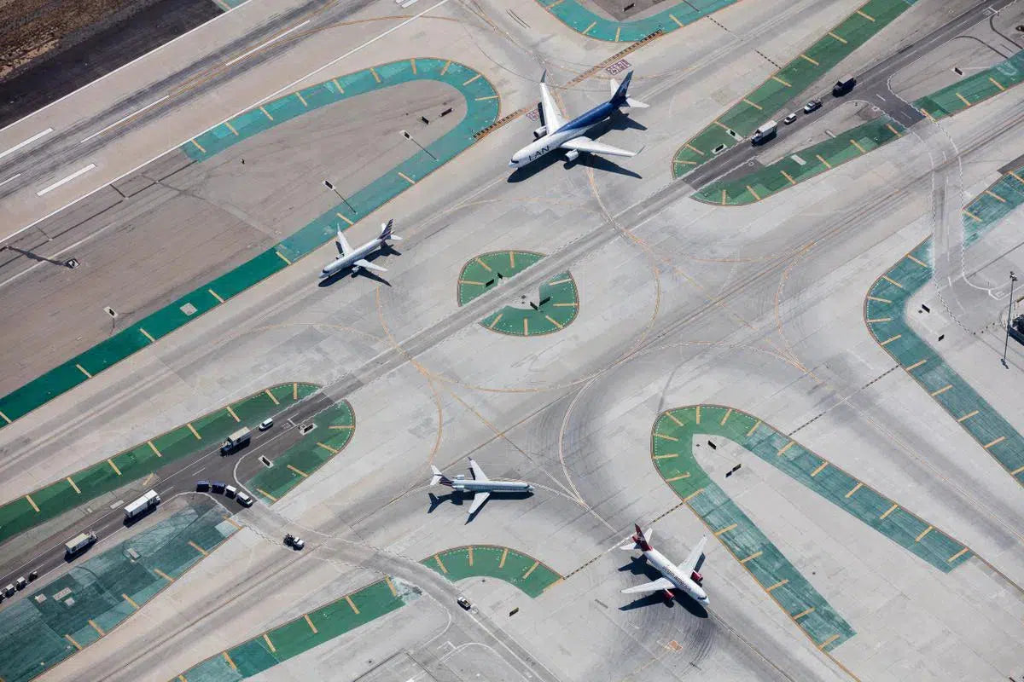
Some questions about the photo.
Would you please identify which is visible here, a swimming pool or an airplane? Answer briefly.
airplane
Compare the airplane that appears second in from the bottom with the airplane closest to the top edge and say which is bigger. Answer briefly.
the airplane closest to the top edge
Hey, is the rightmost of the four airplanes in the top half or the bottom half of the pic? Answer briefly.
bottom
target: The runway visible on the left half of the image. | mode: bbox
[0,0,446,242]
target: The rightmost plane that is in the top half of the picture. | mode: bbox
[509,69,645,167]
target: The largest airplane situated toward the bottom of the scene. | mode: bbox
[619,524,709,604]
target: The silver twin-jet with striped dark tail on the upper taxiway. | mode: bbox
[319,218,400,278]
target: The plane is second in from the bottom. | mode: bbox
[433,458,534,513]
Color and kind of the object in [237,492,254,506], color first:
white car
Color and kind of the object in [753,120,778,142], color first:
white truck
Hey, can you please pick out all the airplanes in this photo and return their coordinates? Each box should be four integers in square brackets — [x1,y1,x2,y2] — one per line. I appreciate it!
[433,458,534,513]
[319,218,400,278]
[619,524,709,604]
[509,69,645,167]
